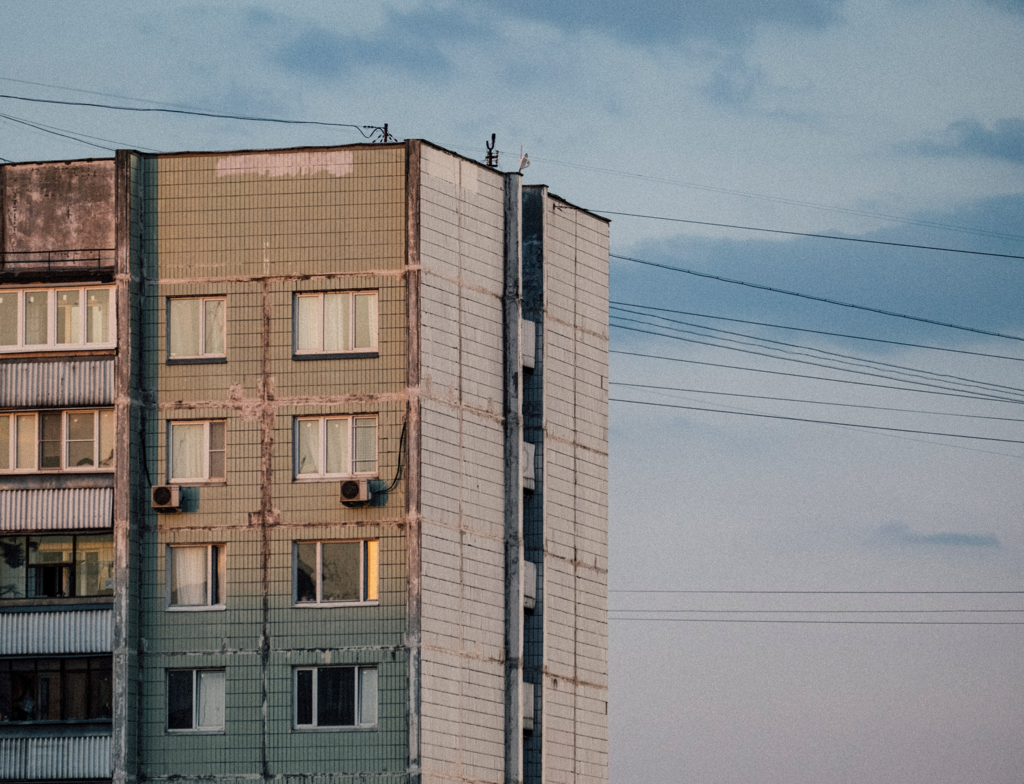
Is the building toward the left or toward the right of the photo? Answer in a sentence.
The building is on the left side of the image.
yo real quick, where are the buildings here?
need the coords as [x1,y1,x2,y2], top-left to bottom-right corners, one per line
[0,139,611,784]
